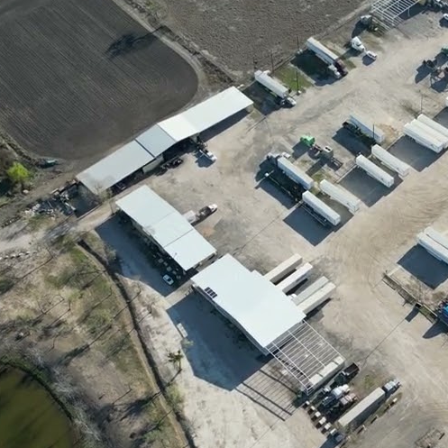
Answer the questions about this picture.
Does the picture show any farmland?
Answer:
Yes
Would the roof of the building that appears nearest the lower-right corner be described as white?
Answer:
Yes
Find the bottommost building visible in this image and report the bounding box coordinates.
[191,254,305,357]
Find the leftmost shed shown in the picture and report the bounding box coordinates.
[77,141,154,203]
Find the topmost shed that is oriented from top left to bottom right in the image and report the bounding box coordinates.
[116,186,216,277]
